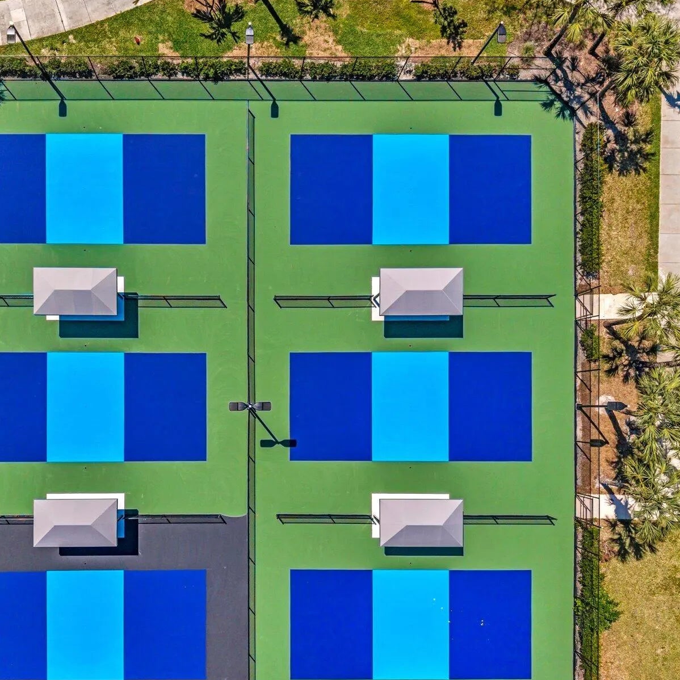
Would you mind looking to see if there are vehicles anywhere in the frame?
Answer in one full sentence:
No, I can see no vehicle in this picture.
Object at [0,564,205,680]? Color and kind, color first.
blue sports court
